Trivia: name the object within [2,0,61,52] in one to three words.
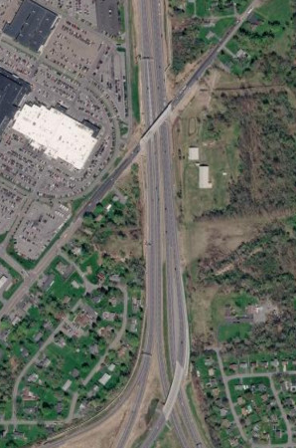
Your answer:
building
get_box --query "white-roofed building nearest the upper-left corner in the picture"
[13,103,101,168]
